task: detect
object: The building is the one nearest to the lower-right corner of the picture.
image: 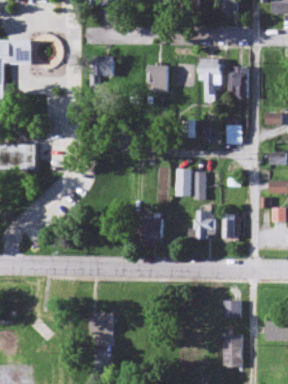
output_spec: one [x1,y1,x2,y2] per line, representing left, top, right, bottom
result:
[222,335,244,367]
